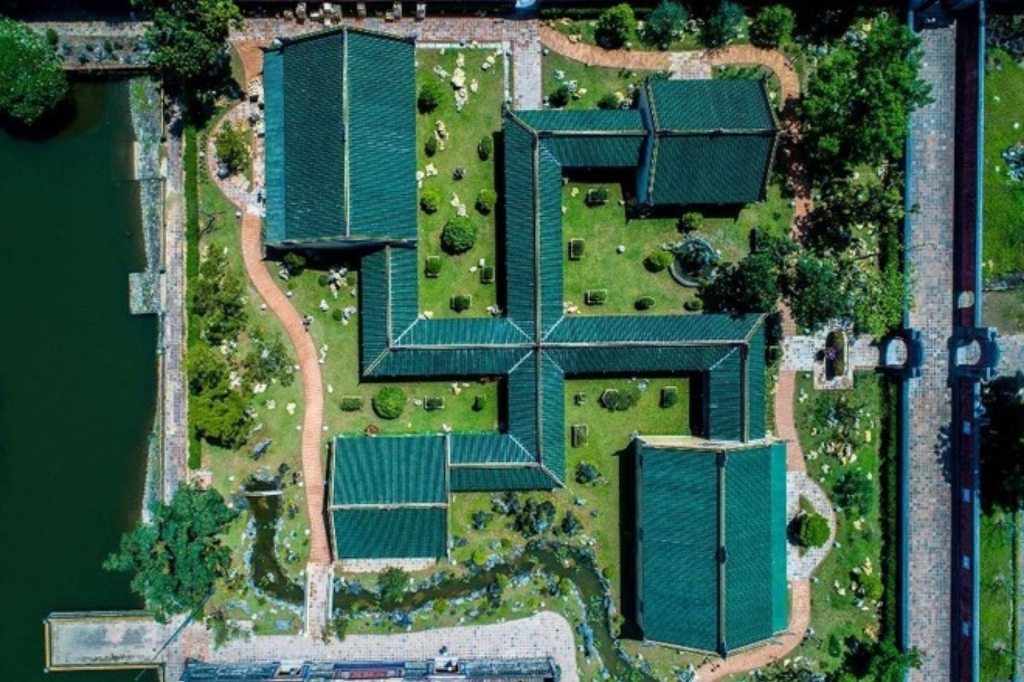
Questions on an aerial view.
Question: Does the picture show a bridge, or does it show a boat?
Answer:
bridge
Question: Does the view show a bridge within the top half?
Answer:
No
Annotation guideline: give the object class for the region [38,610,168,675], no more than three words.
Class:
pier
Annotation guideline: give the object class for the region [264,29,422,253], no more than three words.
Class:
building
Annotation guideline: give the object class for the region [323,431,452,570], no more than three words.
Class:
building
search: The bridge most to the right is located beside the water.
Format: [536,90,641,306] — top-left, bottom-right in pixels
[301,563,333,642]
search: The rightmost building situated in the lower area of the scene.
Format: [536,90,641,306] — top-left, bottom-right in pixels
[636,437,787,670]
